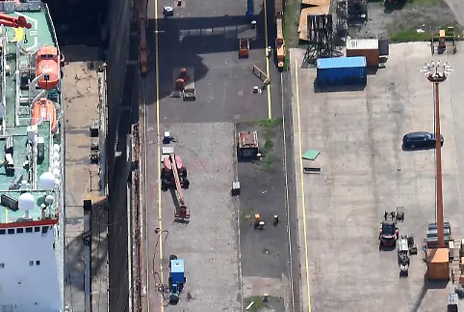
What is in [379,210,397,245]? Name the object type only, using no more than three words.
work vehicle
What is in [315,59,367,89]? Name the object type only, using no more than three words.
shipping container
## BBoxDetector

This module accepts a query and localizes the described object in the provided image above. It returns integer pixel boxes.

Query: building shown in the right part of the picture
[426,248,450,279]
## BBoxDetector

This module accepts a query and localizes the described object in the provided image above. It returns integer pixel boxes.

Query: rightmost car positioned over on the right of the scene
[404,130,434,148]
